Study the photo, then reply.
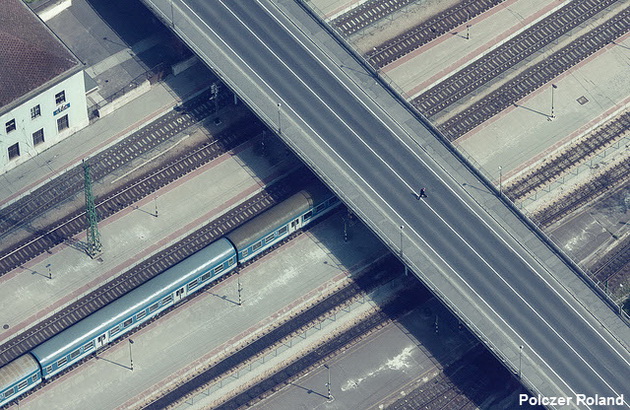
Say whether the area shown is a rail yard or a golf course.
rail yard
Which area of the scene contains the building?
top left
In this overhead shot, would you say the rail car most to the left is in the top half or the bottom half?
bottom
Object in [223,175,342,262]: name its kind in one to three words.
rail car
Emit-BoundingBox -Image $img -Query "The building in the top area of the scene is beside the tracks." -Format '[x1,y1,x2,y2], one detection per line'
[0,0,99,175]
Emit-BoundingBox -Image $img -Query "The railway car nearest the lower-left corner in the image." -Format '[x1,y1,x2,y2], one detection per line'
[0,350,41,405]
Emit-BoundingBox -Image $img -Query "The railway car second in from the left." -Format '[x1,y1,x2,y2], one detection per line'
[27,233,237,379]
